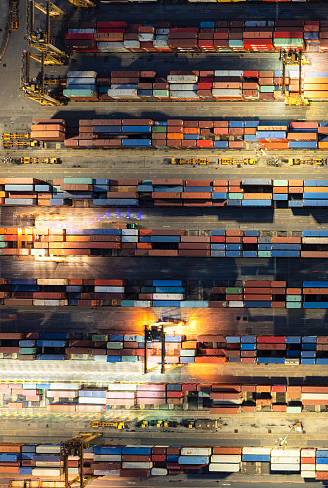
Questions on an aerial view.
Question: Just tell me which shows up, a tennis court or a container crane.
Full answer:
Visible in the photo is a container crane.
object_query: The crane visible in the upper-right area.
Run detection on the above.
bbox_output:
[279,46,314,105]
